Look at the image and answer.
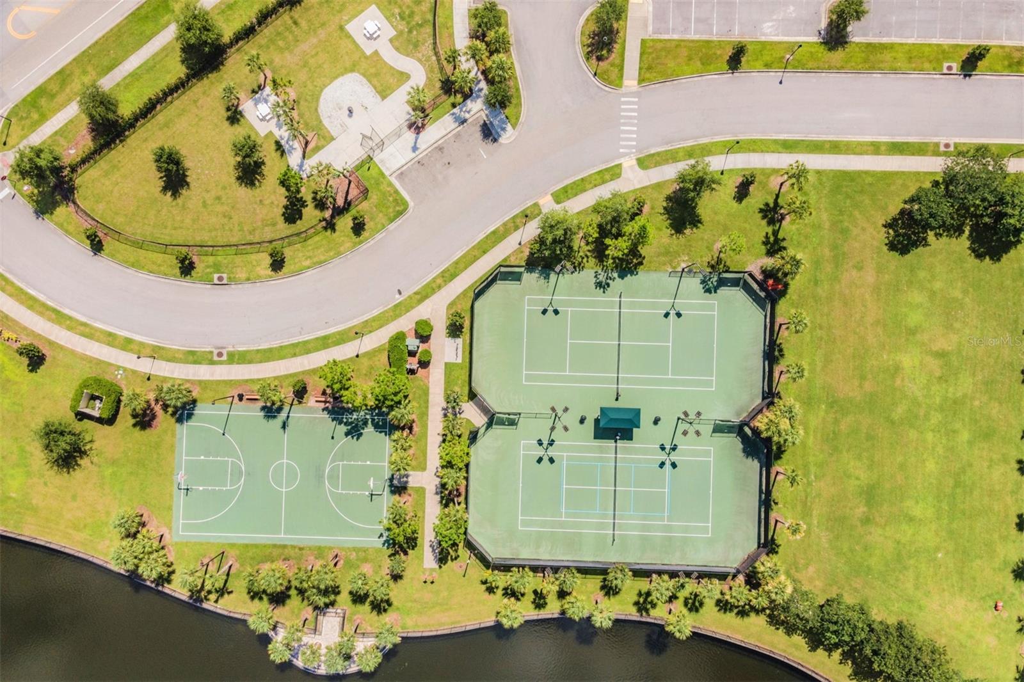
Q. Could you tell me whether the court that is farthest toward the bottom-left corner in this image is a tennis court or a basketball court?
basketball court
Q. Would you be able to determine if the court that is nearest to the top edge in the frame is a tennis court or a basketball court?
tennis court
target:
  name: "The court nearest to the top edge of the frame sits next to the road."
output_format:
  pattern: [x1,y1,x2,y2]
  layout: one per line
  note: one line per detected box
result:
[472,269,764,421]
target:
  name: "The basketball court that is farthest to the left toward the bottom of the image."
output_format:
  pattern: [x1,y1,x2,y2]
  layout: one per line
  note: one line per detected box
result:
[173,404,392,547]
